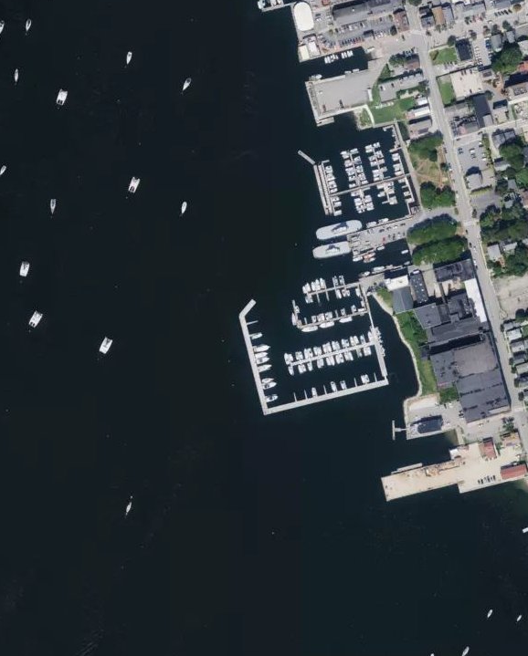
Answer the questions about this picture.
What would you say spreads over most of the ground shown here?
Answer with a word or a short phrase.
water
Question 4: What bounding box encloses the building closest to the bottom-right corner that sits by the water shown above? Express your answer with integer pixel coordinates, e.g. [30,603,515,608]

[501,462,528,482]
